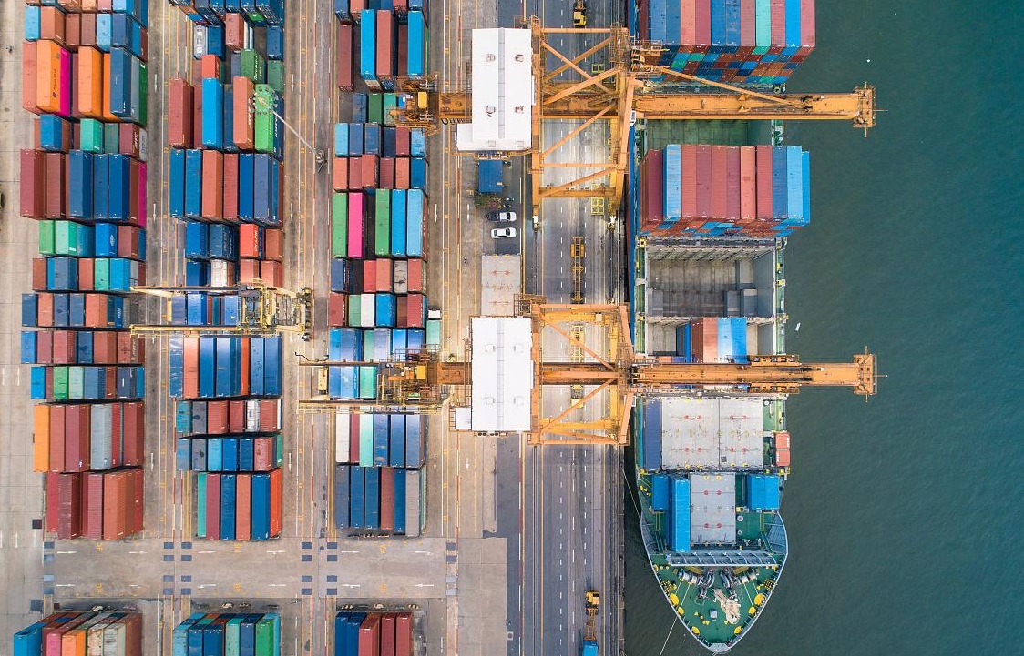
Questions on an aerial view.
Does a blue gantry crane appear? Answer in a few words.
No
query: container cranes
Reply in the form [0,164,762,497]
[391,8,890,241]
[299,357,458,414]
[390,290,891,456]
[132,284,310,342]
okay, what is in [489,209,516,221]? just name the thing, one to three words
vehicle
